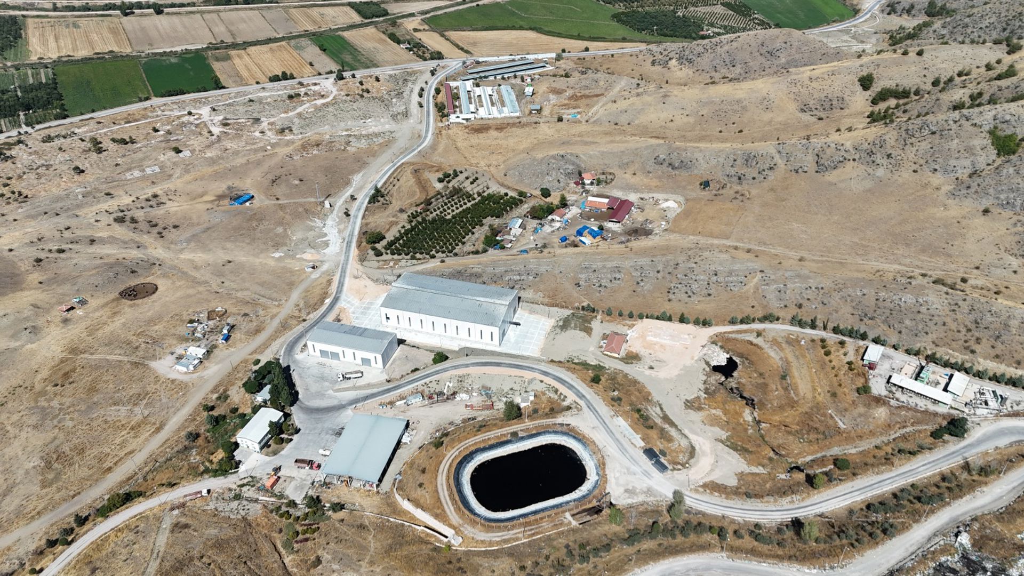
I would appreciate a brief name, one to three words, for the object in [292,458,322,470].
vehicle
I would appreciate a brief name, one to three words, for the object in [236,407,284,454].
building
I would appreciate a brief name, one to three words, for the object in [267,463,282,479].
work vehicle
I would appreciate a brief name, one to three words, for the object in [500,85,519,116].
barn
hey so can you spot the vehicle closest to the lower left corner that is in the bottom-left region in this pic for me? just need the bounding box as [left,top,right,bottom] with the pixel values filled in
[180,485,212,501]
